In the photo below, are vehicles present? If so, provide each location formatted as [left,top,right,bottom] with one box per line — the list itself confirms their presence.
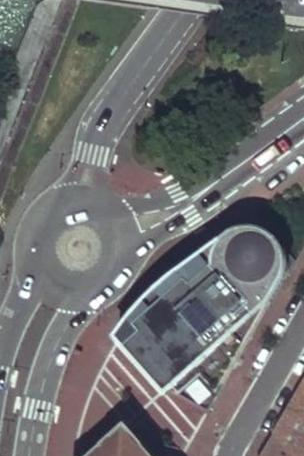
[200,190,222,208]
[96,106,113,131]
[290,354,304,378]
[54,343,70,367]
[166,213,186,231]
[284,295,302,316]
[86,284,115,312]
[249,134,296,173]
[265,171,288,190]
[135,238,157,258]
[66,212,89,224]
[18,275,36,300]
[252,346,270,370]
[270,316,290,337]
[261,410,278,432]
[283,156,304,174]
[111,265,134,288]
[68,310,90,329]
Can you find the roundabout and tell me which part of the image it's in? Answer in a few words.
left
